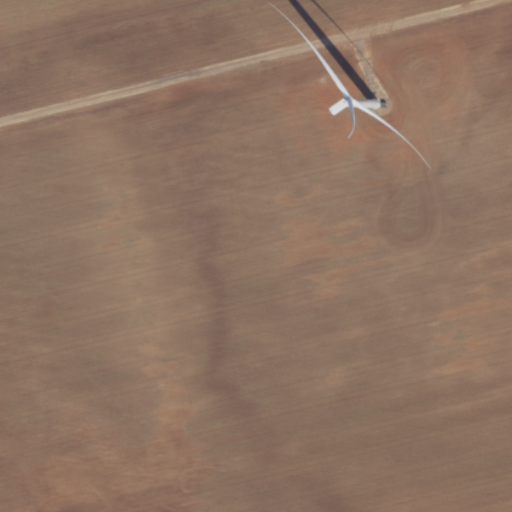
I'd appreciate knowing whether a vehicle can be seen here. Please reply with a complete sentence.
No, the frame has no vehicle in it.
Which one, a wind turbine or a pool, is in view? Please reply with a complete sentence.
The one in the frame is a wind turbine.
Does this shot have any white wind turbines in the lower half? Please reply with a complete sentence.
No, there is no white wind turbine in the lower half.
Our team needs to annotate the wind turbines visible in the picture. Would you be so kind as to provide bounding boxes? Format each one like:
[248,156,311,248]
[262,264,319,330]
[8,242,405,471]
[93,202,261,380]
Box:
[270,2,428,166]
